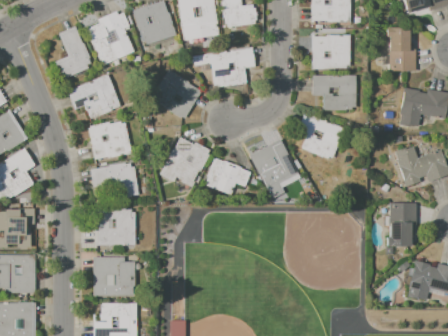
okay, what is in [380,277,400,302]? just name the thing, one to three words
swimming pool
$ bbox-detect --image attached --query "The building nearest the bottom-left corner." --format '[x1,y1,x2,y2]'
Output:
[0,302,36,336]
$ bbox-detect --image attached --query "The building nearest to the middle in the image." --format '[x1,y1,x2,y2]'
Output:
[208,158,251,195]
